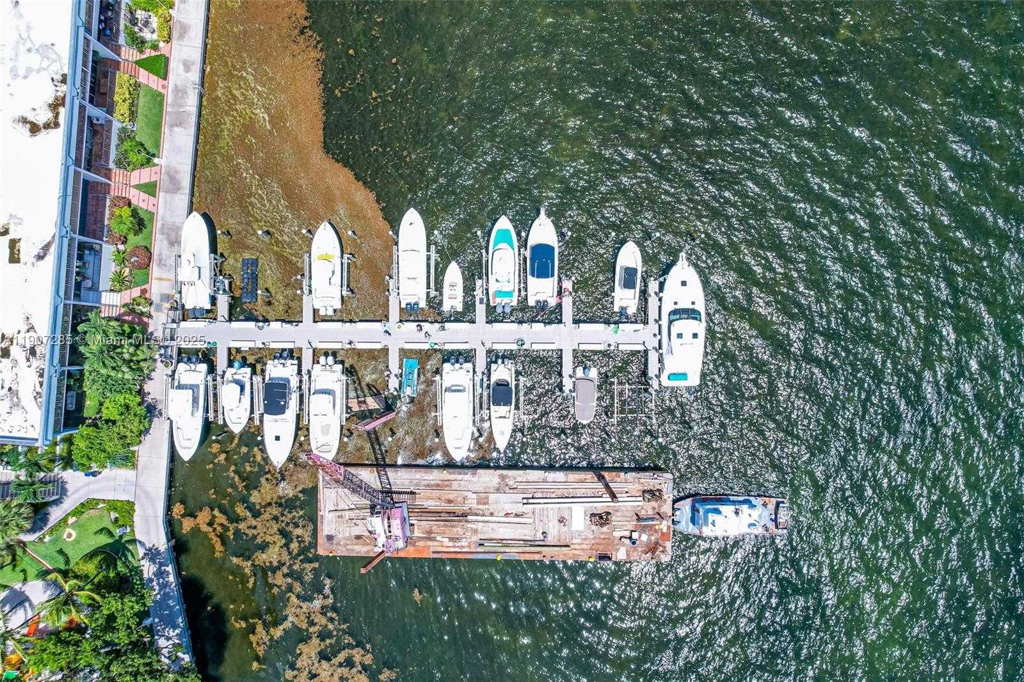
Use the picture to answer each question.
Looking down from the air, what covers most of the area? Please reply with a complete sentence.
The bulk of the photo consists of water.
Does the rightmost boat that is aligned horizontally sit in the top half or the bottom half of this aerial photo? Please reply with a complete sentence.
Seen from above, the rightmost boat that is aligned horizontally lies in the bottom half of the view.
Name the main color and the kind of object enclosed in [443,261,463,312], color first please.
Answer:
white boat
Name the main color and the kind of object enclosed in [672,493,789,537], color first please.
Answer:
white boat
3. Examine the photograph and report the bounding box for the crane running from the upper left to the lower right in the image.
[300,448,411,554]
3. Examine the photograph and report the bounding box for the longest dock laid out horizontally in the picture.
[177,280,659,390]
